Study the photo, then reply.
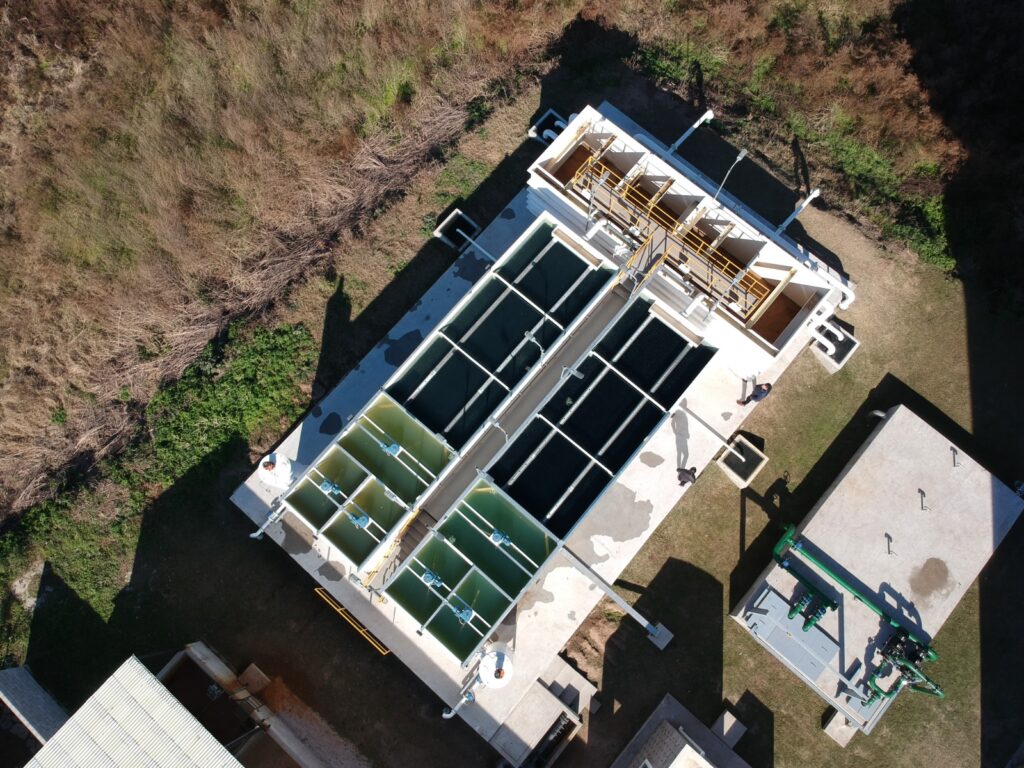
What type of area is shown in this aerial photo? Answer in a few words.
industrial area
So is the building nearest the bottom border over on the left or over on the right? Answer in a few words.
right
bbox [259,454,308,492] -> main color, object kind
white storage tank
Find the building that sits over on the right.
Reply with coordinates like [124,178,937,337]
[633,721,726,768]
